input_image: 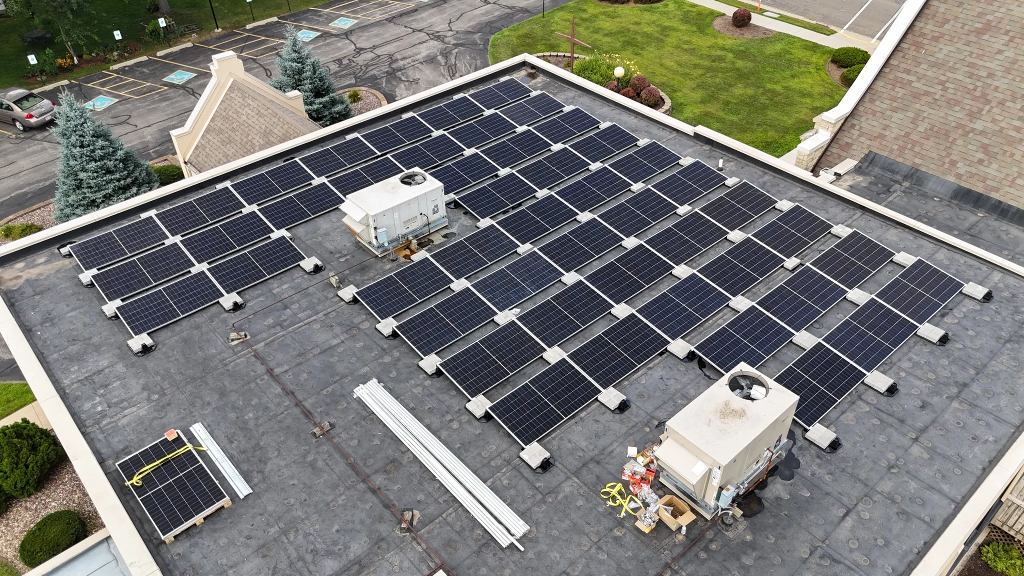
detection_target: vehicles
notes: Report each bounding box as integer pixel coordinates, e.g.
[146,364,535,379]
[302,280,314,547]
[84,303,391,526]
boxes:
[0,86,64,133]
